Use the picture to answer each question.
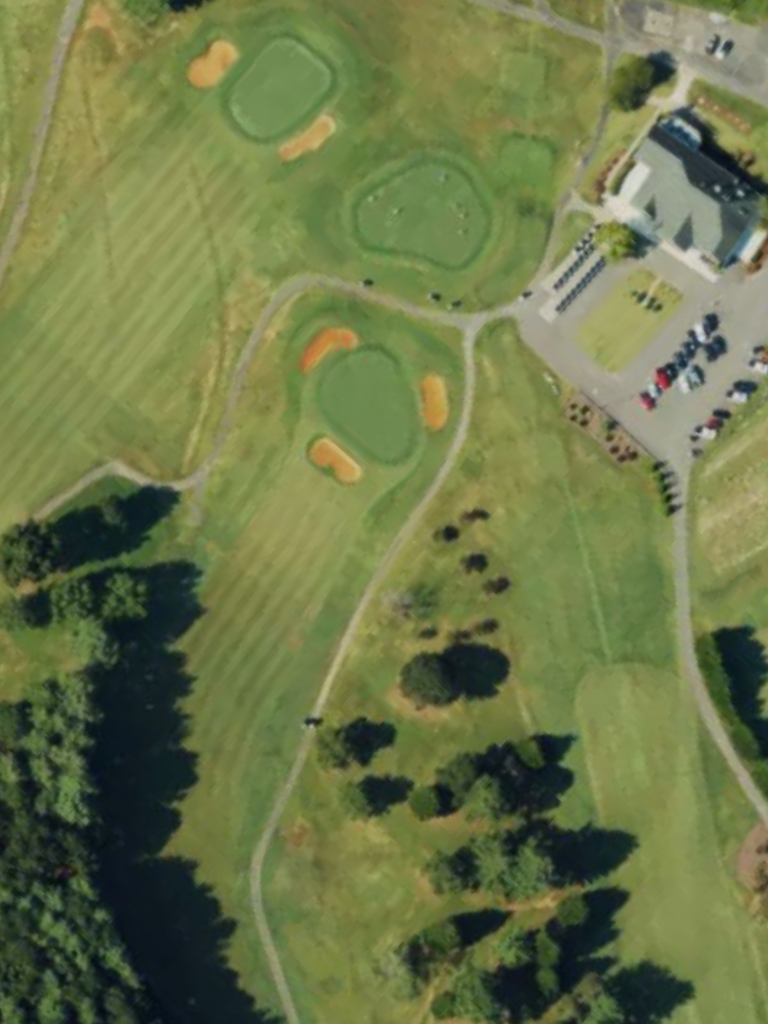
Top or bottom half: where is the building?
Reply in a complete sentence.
The building sits in the top half of the picture.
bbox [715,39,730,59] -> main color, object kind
white car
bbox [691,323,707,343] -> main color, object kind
white car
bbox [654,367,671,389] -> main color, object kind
red car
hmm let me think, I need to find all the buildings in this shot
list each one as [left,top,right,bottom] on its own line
[618,117,766,264]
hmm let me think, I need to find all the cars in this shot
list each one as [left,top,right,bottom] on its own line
[708,336,725,357]
[685,366,702,388]
[663,361,679,381]
[672,350,689,371]
[654,367,671,389]
[685,330,701,350]
[758,354,768,364]
[751,361,768,374]
[639,391,655,411]
[751,345,768,355]
[705,418,725,429]
[645,379,661,399]
[691,323,707,343]
[711,409,732,421]
[696,426,717,438]
[676,373,692,393]
[715,39,730,59]
[704,311,718,334]
[704,35,718,55]
[680,339,696,359]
